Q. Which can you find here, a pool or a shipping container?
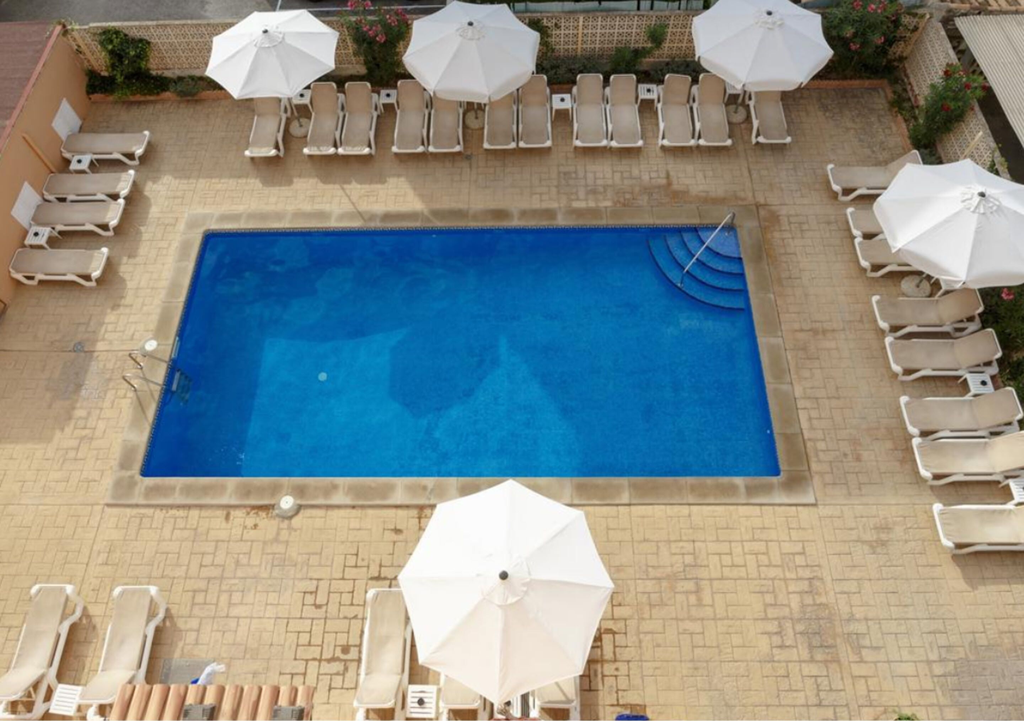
pool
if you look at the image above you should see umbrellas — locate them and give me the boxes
[876,154,1024,298]
[403,0,541,129]
[694,0,832,124]
[396,479,616,704]
[203,10,340,136]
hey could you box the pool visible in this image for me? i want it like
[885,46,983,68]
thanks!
[150,234,775,476]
